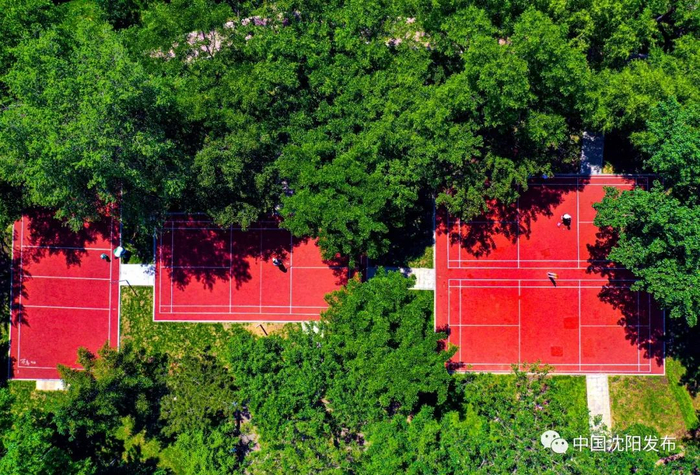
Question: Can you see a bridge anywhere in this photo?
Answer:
No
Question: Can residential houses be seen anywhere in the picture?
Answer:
No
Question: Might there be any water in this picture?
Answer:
No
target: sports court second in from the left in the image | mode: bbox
[152,213,368,323]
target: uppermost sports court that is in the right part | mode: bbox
[434,174,666,275]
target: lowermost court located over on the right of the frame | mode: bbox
[434,274,667,376]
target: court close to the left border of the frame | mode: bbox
[8,185,122,382]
